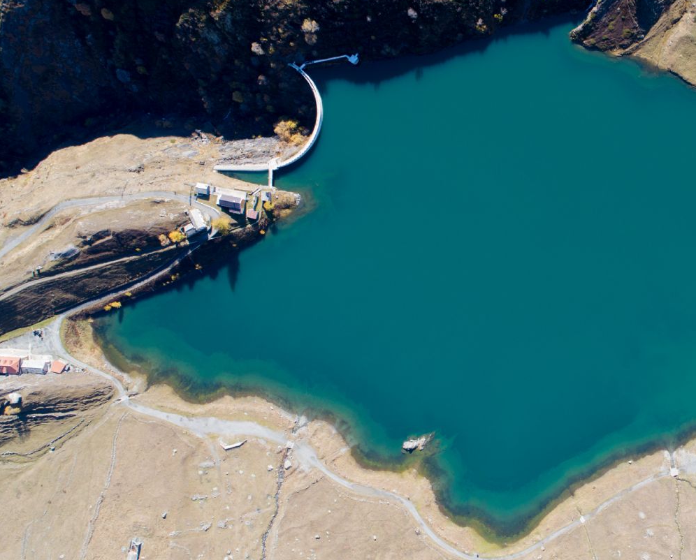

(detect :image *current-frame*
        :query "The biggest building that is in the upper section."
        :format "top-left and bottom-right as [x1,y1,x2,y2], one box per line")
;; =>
[217,189,253,211]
